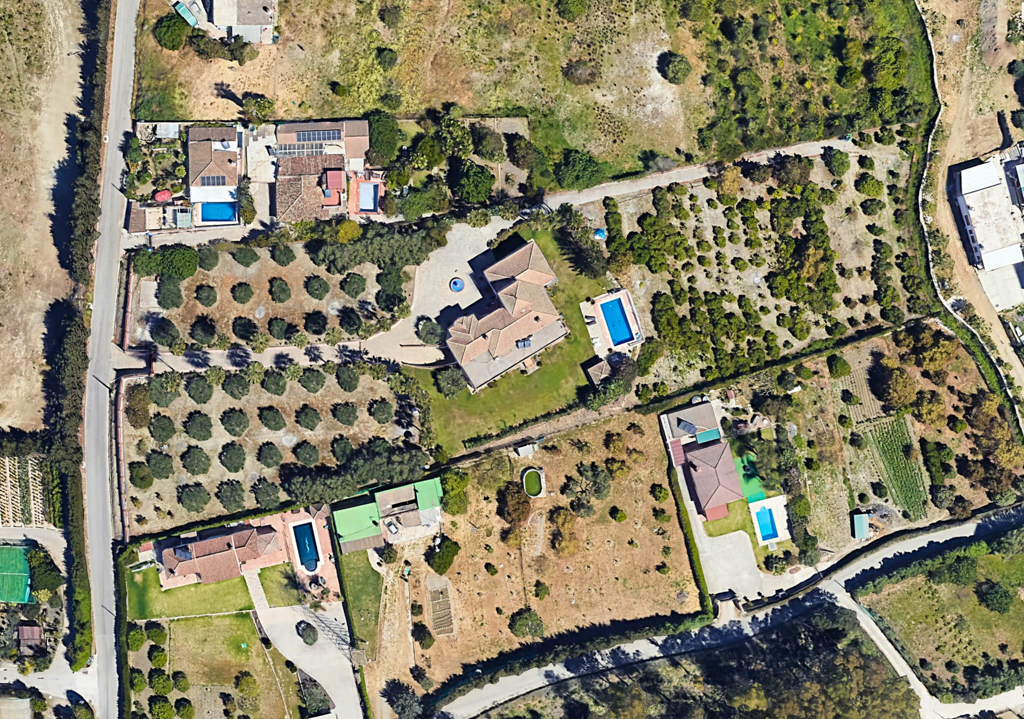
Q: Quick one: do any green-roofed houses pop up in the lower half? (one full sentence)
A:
Yes, in the lower half there is a green-roofed house.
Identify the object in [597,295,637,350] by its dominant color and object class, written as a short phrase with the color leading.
blue swimming pool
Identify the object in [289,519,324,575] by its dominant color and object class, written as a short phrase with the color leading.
blue swimming pool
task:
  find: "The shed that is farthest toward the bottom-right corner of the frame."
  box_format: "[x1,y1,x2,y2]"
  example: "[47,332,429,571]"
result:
[853,514,869,538]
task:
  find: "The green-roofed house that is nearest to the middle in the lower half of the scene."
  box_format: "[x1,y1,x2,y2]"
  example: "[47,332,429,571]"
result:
[333,478,443,554]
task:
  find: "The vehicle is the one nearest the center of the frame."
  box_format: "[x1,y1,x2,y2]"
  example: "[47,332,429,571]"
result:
[381,517,399,537]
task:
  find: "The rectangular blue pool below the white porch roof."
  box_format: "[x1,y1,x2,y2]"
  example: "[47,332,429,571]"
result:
[195,202,238,224]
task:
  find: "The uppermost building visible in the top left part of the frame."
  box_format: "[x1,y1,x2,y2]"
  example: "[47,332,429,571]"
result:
[214,0,274,44]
